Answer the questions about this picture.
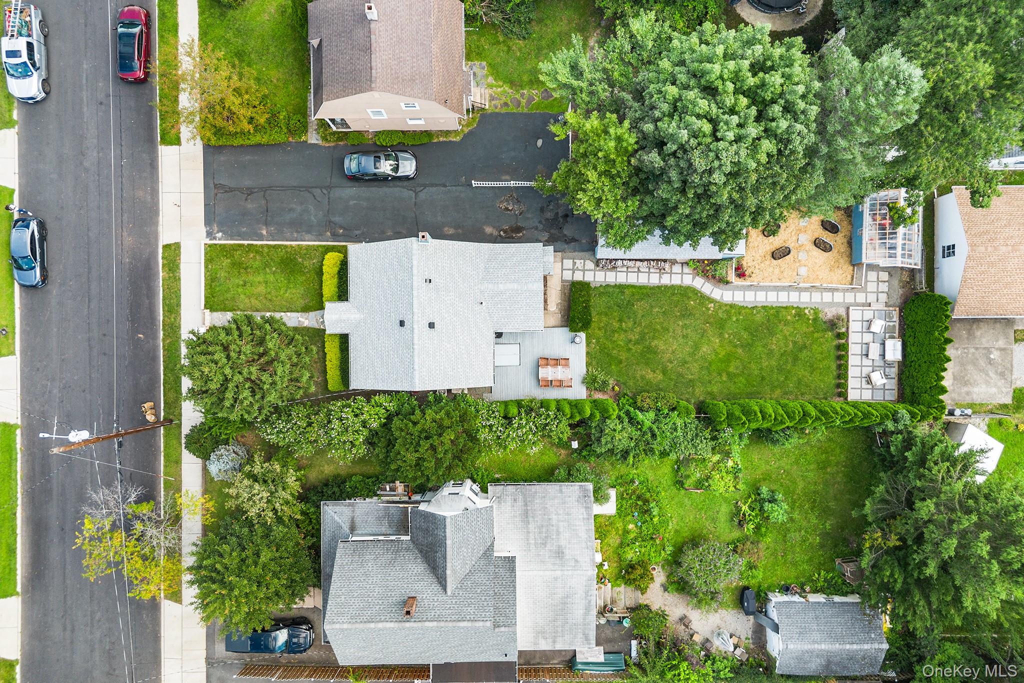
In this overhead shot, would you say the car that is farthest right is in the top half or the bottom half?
top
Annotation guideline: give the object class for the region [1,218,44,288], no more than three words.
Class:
car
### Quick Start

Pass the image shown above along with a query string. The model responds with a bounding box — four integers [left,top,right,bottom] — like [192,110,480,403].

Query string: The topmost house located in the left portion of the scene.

[306,0,489,126]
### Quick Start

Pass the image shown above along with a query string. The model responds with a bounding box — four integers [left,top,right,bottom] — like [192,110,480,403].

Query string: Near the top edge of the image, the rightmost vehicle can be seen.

[108,4,151,82]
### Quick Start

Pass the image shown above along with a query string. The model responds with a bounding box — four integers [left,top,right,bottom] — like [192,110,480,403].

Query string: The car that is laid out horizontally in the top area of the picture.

[344,147,417,182]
